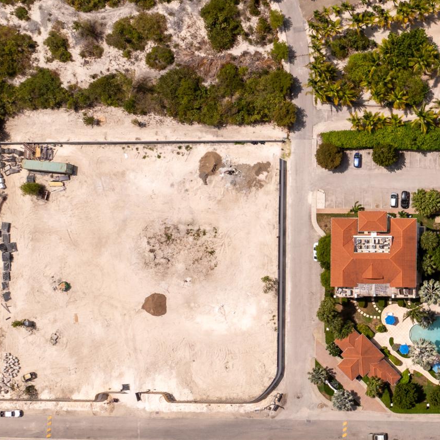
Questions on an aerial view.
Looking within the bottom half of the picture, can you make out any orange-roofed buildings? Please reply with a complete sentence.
Yes, there is an orange-roofed building within the bottom half of the picture.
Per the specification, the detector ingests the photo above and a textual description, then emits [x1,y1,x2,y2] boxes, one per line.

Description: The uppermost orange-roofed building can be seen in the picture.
[331,212,419,299]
